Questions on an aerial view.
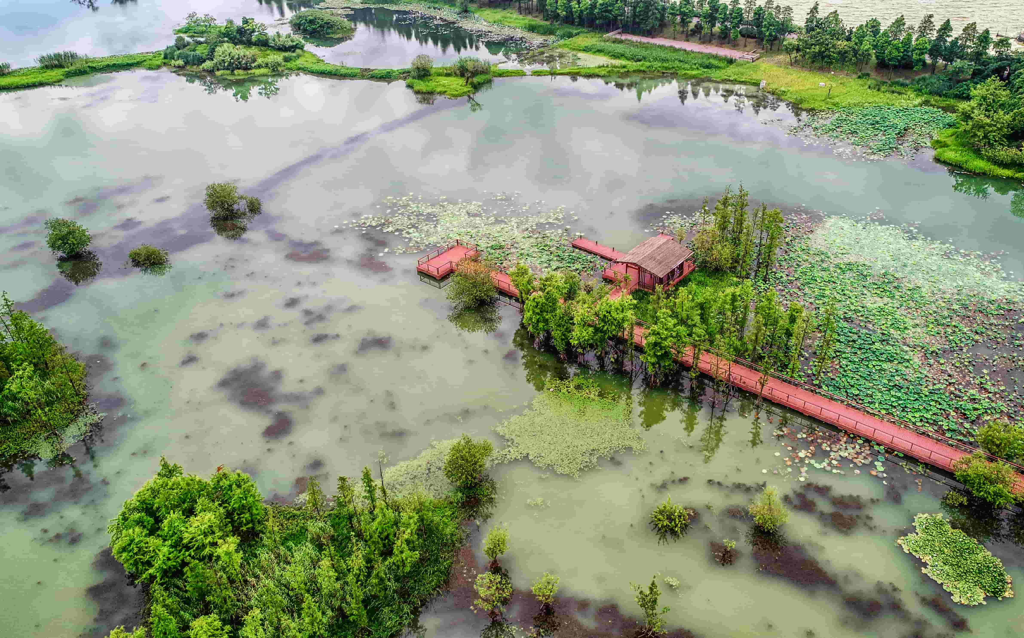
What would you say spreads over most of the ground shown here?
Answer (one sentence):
The bulk of the photo consists of water.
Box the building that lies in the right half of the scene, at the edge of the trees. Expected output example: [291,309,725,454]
[602,236,698,293]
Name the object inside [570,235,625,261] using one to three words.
pier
